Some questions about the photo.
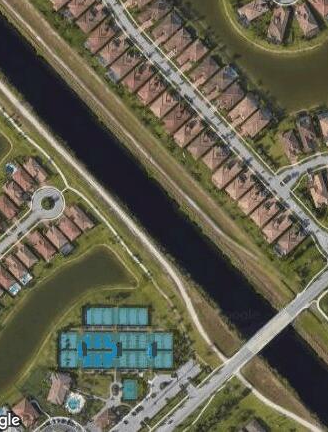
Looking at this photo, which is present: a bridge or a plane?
bridge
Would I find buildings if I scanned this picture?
Yes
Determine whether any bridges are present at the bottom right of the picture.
Yes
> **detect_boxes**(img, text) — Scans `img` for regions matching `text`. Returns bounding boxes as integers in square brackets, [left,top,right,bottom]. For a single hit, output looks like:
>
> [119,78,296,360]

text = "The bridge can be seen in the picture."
[244,307,296,359]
